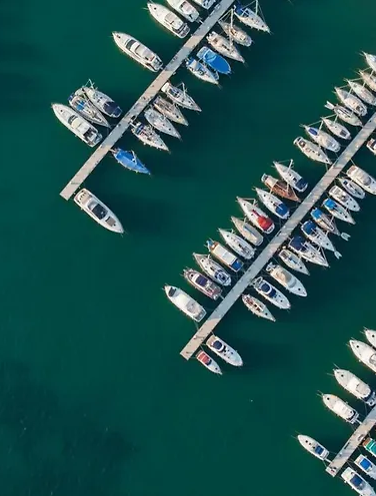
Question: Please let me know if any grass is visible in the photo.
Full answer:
No, the scene doesn't show any grass.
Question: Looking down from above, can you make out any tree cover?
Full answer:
No, there's no tree cover in this view.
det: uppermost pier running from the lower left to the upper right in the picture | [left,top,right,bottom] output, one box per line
[60,0,235,201]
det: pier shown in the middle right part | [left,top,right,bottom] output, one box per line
[180,111,376,361]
